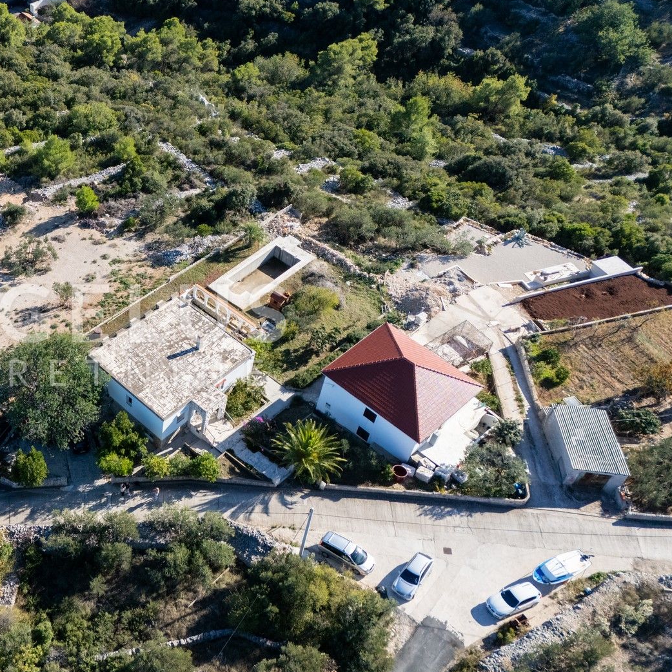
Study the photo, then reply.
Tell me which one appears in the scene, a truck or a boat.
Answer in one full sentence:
The one in the frame is a boat.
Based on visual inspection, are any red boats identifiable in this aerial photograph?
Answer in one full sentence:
No, the frame has no red boat in it.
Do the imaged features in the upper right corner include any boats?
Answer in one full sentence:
No, no boat appears in the upper right corner.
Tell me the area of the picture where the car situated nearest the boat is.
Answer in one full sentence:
Look in the bottom right portion of the view to spot the car situated nearest the boat.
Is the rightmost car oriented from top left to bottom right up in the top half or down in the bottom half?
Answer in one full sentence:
The rightmost car oriented from top left to bottom right sits in the bottom half of the picture.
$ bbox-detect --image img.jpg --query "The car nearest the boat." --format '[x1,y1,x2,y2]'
[485,580,545,618]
